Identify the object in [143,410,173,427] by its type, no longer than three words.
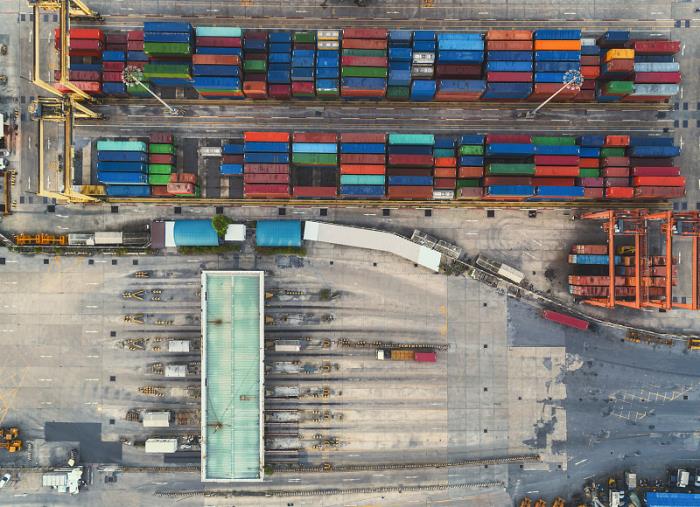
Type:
building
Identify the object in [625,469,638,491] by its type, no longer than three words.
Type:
vehicle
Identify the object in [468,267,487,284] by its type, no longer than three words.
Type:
vehicle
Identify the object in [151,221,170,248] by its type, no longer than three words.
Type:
shed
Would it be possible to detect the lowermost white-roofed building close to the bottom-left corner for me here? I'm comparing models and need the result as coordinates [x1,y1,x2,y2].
[42,467,87,494]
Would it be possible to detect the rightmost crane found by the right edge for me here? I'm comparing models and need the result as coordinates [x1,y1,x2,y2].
[623,209,700,310]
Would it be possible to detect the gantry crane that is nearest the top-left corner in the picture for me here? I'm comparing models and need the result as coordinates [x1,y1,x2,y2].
[25,0,105,102]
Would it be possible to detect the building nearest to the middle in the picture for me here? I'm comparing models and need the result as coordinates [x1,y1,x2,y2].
[256,219,302,247]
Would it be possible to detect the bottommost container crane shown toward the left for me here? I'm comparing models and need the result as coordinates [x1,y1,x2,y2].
[29,94,109,204]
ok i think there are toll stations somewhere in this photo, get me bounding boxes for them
[201,271,272,482]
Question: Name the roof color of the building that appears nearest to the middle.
blue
